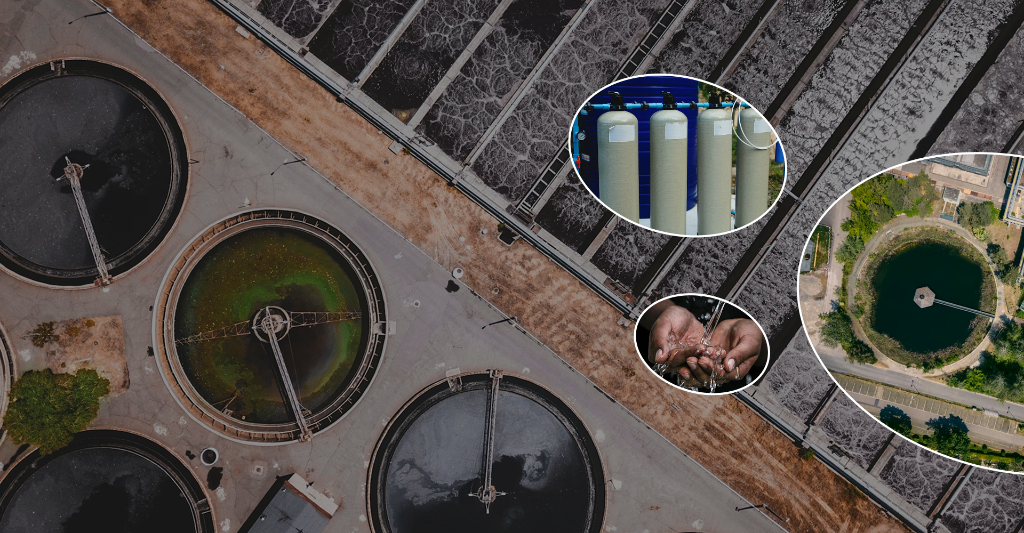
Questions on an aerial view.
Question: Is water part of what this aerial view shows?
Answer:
Yes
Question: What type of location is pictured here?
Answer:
industrial area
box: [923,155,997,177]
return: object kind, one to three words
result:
greenhouse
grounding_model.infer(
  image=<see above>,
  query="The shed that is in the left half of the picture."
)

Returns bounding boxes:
[245,473,339,533]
